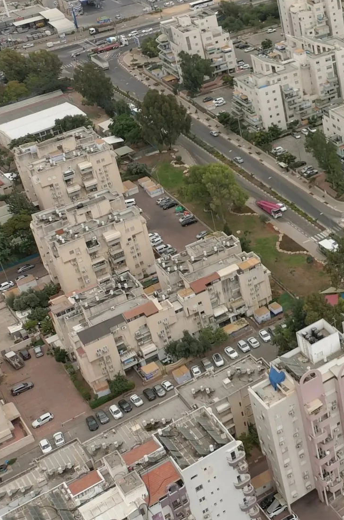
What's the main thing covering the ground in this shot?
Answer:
buildings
